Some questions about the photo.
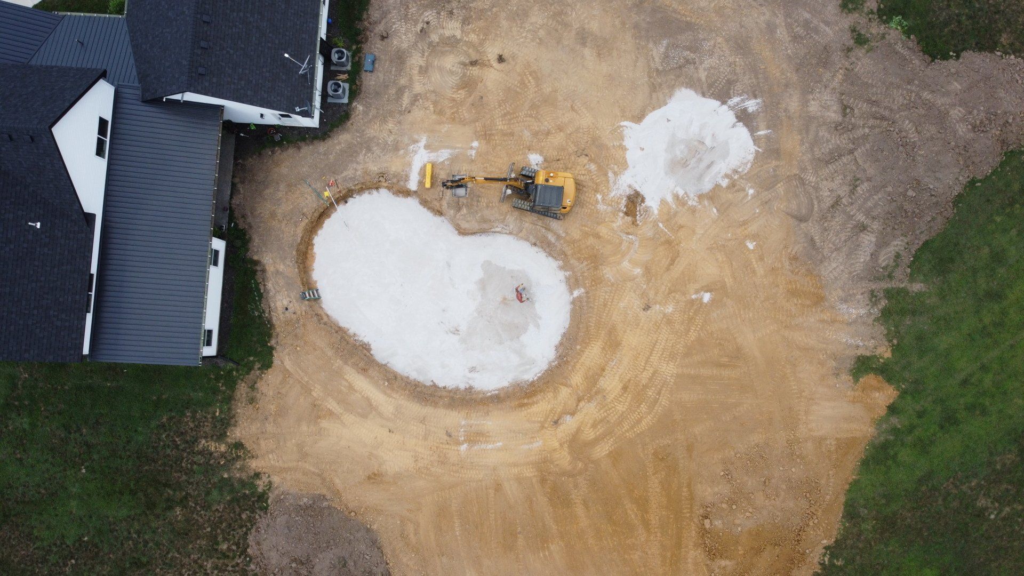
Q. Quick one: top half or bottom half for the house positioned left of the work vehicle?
top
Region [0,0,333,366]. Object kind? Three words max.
house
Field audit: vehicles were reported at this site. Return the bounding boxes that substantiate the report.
[440,162,576,222]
